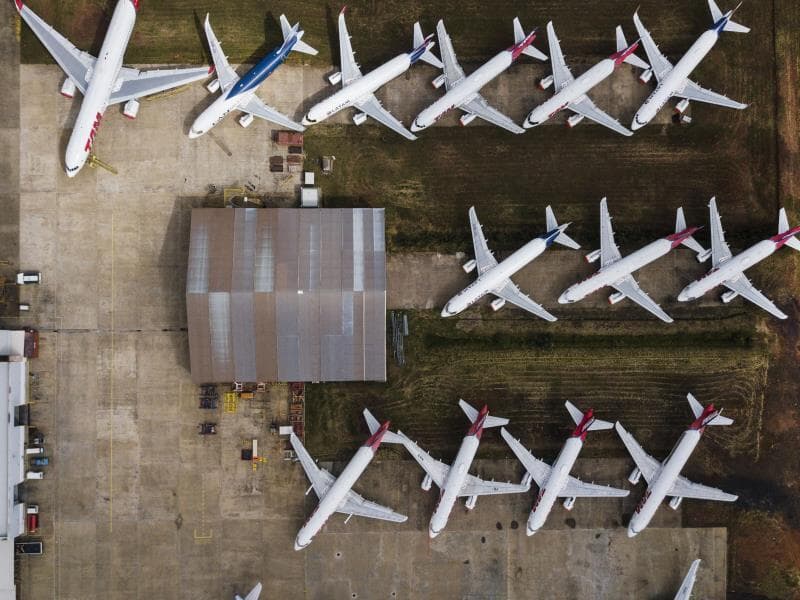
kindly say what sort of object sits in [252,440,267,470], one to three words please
work vehicle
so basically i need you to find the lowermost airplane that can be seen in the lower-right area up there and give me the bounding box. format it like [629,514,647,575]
[670,559,703,600]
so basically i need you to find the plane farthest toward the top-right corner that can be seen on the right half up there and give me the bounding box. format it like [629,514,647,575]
[630,0,758,130]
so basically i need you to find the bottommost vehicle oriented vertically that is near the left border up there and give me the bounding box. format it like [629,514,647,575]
[27,505,39,532]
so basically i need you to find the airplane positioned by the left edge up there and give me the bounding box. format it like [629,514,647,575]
[16,0,220,177]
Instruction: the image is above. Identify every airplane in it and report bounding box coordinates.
[677,193,800,319]
[189,11,320,139]
[441,203,583,321]
[630,0,758,130]
[291,409,410,548]
[502,399,632,534]
[523,16,653,136]
[235,581,262,600]
[670,559,703,600]
[16,0,220,177]
[410,14,551,133]
[301,4,447,138]
[616,392,742,535]
[558,195,709,322]
[398,398,532,535]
